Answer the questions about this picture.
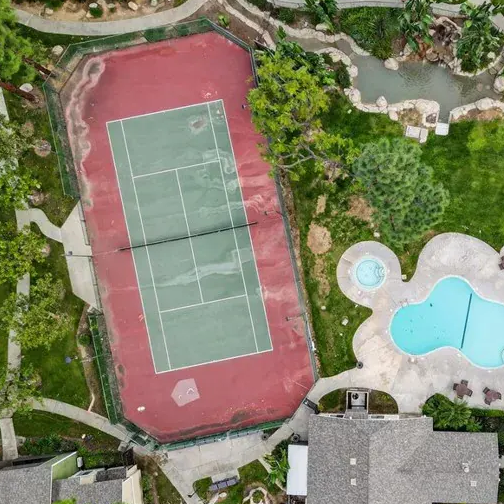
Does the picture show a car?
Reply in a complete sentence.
No, the frame has no car in it.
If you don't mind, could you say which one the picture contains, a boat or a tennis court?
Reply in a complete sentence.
Looking from above, you can make out a tennis court.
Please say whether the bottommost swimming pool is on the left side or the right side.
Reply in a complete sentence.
It is on the right.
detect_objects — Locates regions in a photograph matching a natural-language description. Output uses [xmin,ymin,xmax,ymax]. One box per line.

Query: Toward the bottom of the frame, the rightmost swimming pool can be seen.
[387,274,504,371]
